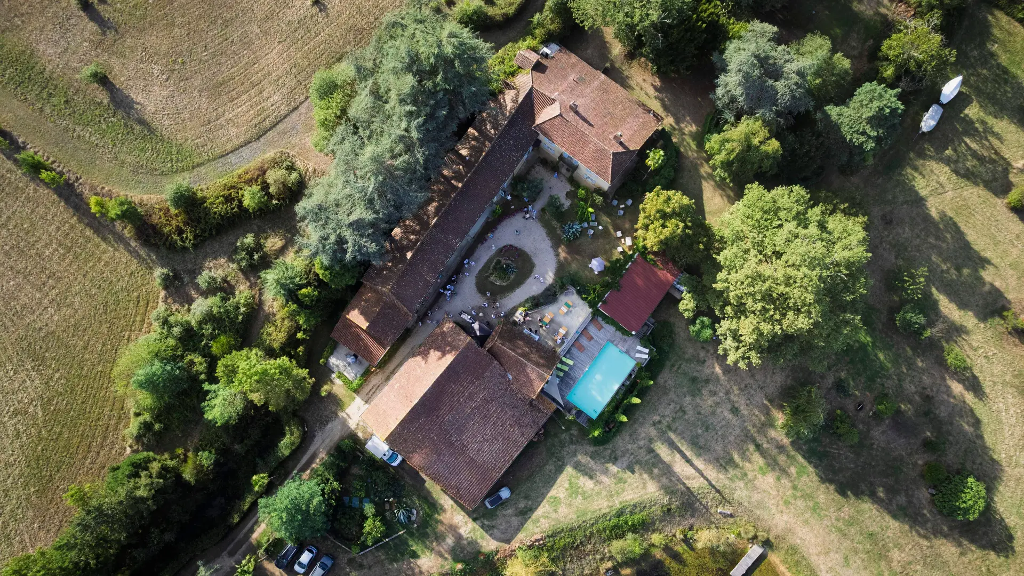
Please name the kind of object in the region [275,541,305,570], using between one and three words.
car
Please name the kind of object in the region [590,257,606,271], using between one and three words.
umbrella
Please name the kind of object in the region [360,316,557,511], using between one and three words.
barn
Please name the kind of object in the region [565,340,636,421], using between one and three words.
swimming pool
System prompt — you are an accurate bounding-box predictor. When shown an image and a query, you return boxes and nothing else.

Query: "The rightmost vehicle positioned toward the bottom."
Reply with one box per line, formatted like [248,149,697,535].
[483,485,513,509]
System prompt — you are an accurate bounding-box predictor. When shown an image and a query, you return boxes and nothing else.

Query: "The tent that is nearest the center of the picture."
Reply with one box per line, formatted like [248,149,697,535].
[469,321,492,345]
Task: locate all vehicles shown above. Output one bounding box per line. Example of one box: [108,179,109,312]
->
[483,485,513,509]
[358,433,403,468]
[275,541,305,570]
[311,551,338,576]
[294,543,320,575]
